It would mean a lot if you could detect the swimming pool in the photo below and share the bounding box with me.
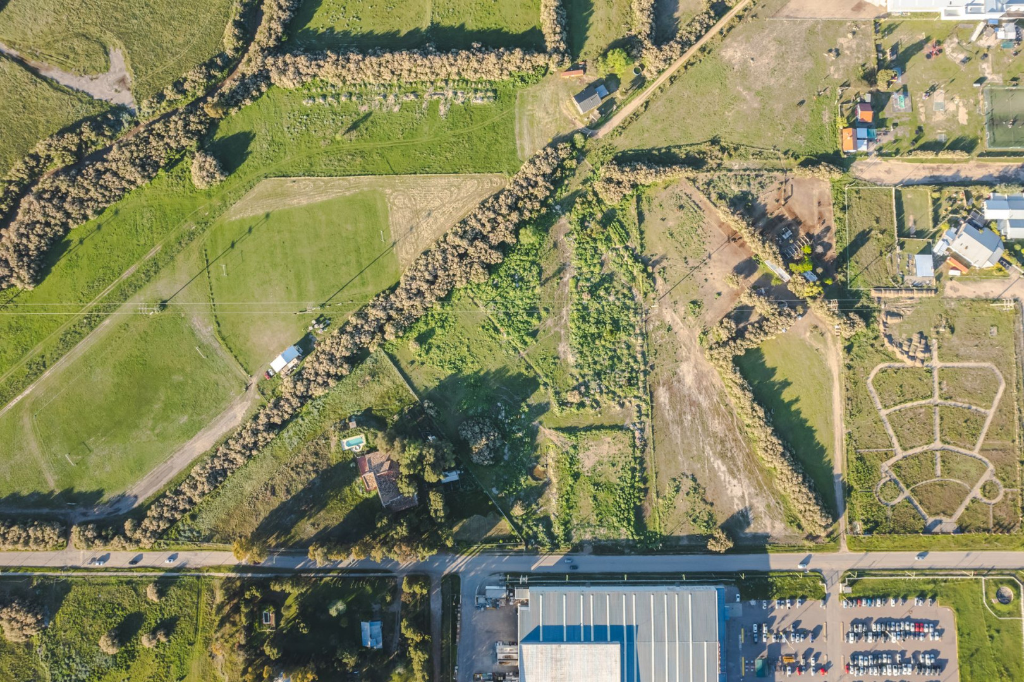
[340,436,364,453]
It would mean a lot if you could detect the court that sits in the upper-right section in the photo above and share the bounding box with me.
[986,86,1024,148]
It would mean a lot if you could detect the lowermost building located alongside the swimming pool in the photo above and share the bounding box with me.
[357,449,418,512]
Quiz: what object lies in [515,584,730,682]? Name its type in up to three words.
building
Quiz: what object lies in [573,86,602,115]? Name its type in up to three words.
house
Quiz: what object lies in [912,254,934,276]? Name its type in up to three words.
house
